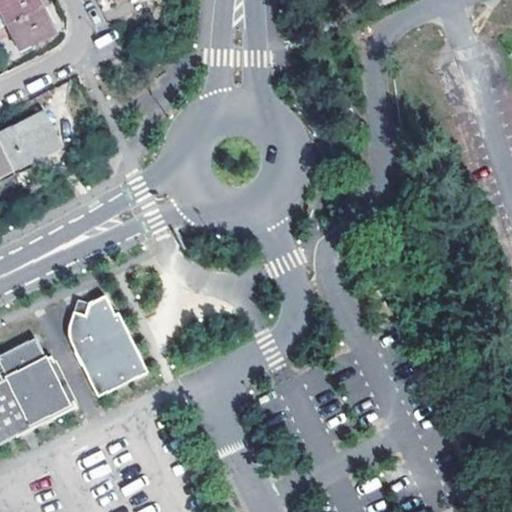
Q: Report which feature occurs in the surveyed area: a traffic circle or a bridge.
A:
traffic circle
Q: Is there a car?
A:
Yes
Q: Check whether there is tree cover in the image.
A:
Yes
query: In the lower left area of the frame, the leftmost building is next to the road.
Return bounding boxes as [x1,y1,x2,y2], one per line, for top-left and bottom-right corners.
[0,338,76,444]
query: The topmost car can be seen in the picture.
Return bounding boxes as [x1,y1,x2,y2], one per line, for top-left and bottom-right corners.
[85,2,101,24]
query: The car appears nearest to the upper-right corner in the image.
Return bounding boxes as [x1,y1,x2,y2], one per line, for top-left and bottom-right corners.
[472,166,492,179]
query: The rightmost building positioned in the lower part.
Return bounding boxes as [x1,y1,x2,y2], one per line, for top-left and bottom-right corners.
[68,295,146,396]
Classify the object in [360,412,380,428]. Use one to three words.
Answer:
car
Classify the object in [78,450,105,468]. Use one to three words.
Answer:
vehicle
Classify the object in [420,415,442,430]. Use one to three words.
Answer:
car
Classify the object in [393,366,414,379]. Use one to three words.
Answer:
vehicle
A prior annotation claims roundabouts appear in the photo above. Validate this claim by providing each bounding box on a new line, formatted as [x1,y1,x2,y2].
[161,84,315,238]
